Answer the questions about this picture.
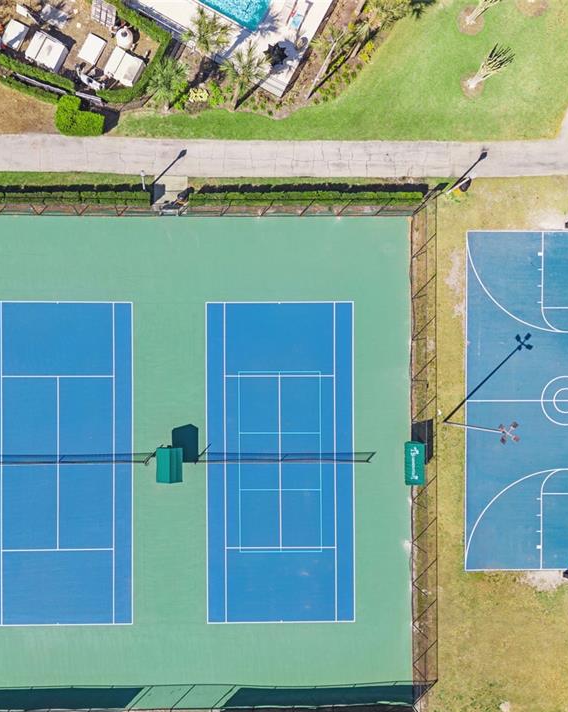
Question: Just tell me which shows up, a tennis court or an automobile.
tennis court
